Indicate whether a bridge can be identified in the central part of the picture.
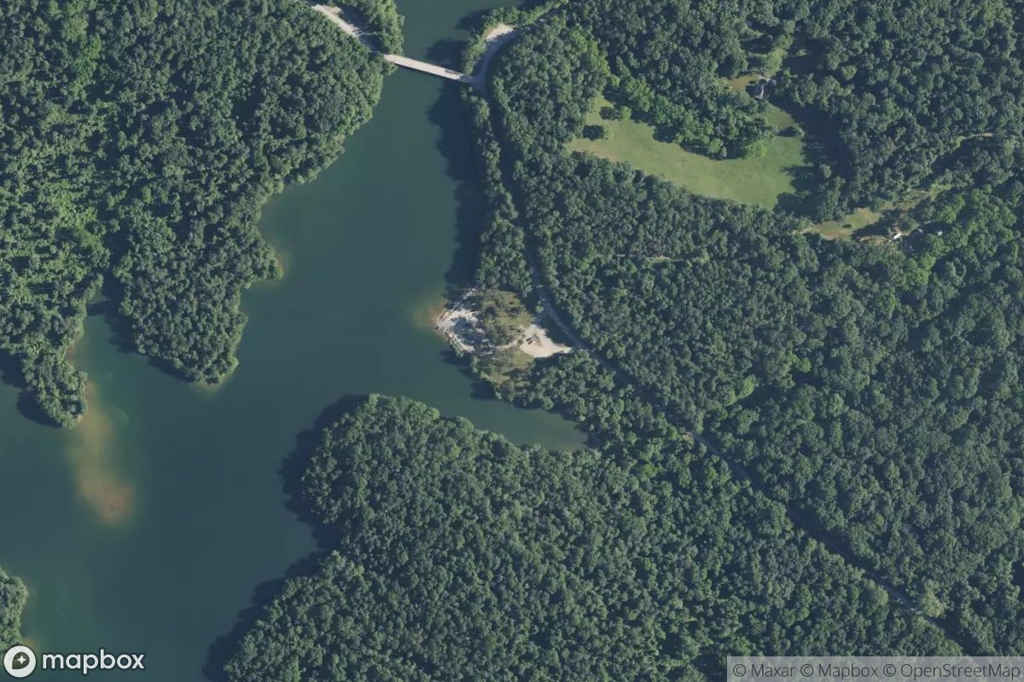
No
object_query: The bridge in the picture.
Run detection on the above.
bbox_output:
[381,51,478,84]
